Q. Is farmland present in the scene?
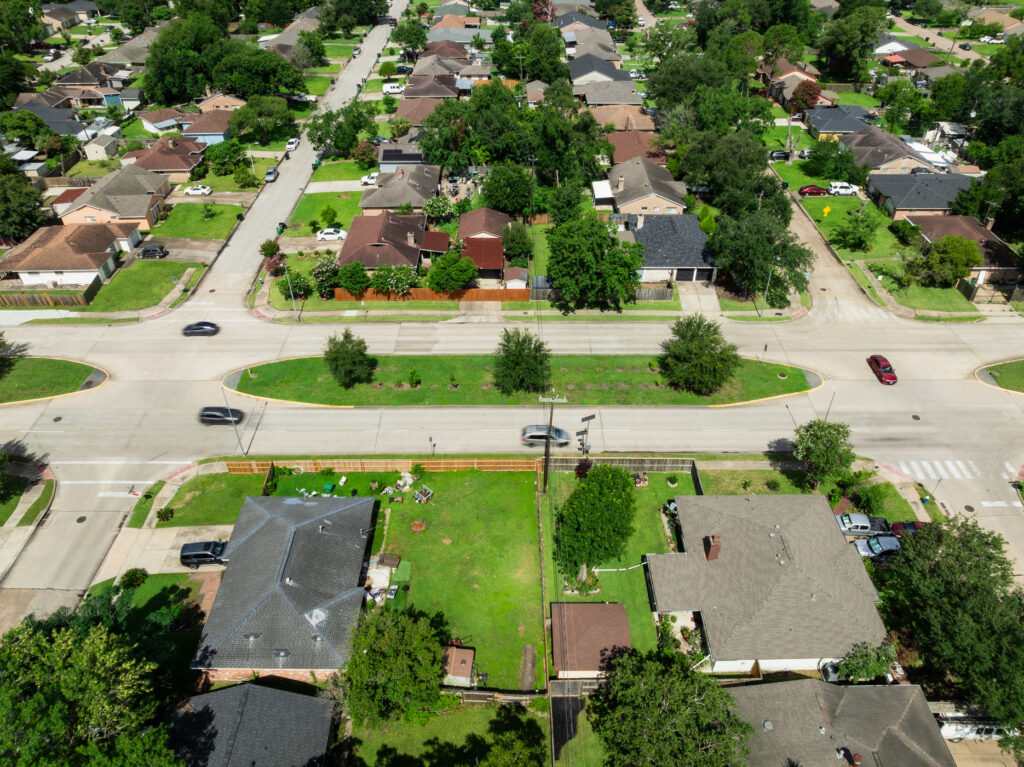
No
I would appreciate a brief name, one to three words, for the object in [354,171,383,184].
vehicle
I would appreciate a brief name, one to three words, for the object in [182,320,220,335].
car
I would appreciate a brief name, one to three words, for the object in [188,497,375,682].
house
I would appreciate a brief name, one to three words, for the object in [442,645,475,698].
shed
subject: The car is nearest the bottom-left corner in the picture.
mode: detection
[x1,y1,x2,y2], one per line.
[175,541,232,568]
